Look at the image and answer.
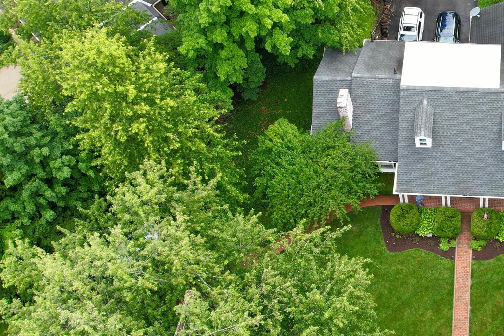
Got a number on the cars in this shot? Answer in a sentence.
The number of cars here is 2.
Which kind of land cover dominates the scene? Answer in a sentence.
The bulk of the photo consists of trees.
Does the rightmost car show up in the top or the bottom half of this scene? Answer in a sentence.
The rightmost car sits in the top half of the picture.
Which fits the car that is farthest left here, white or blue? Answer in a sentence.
The color of the car that is farthest left is white.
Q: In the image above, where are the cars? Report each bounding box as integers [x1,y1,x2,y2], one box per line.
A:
[435,12,461,40]
[396,6,426,41]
